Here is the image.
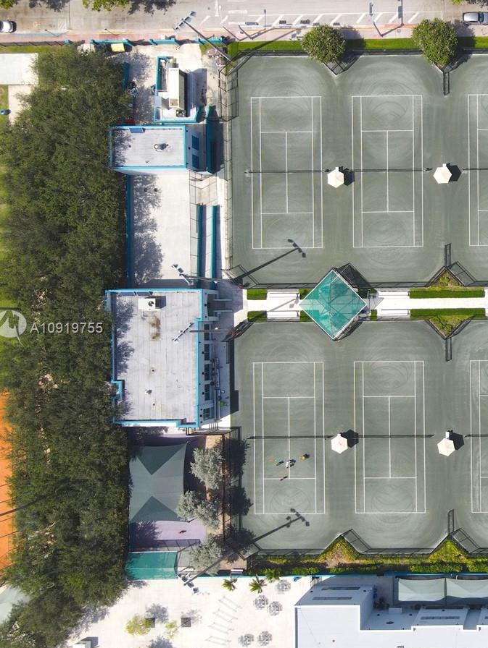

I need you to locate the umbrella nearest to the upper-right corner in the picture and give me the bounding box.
[434,165,453,183]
